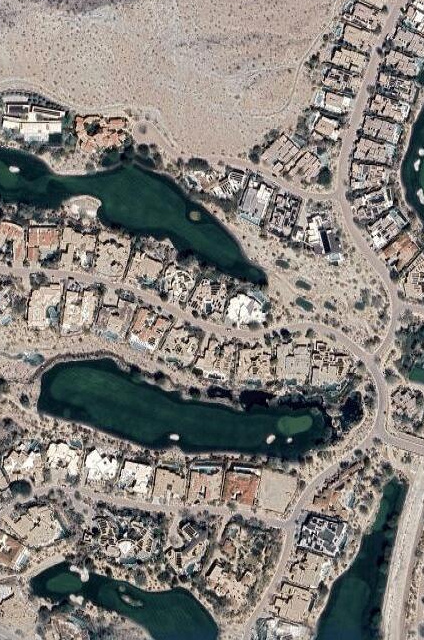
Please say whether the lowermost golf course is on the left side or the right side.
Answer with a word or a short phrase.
left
